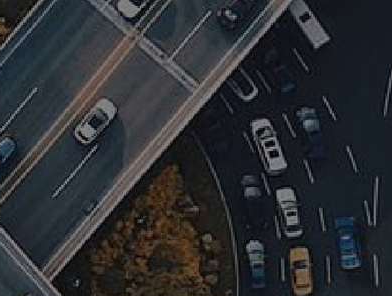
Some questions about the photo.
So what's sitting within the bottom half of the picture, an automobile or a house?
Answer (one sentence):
The one visible within the bottom half of the picture is an automobile.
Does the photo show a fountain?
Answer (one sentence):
No, I can see no fountain in this picture.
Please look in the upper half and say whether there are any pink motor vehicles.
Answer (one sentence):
No, there is no pink motor vehicle in the upper half.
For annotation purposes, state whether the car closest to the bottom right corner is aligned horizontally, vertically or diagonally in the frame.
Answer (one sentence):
The car closest to the bottom right corner runs vertically in the image.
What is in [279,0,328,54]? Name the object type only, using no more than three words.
vehicle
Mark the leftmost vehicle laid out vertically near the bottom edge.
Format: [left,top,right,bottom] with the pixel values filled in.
[241,238,268,292]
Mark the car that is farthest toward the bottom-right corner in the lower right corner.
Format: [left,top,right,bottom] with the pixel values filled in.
[332,217,360,271]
